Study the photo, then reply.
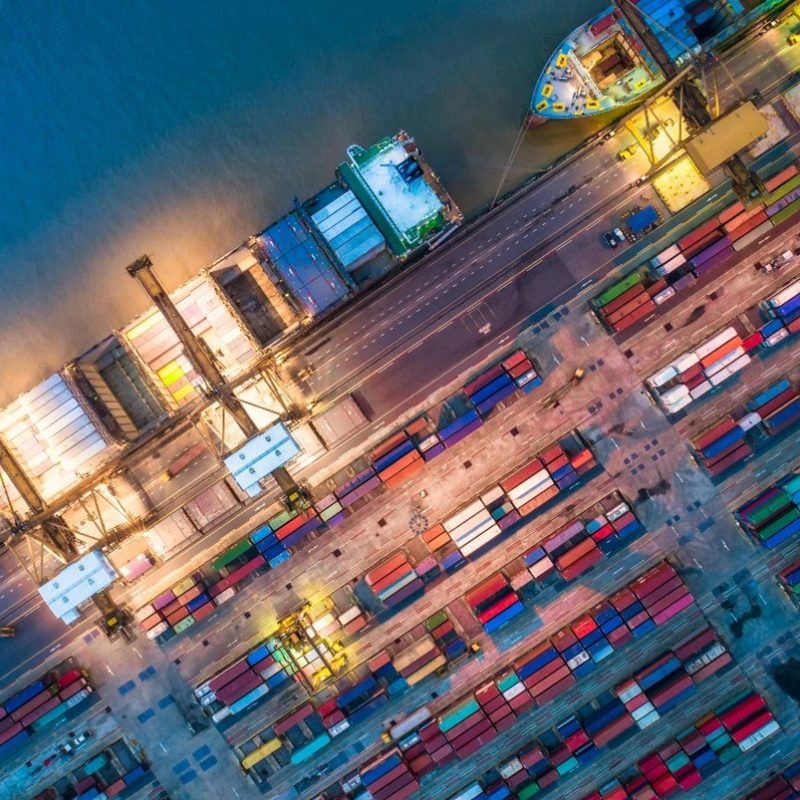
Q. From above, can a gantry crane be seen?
Yes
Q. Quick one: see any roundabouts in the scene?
No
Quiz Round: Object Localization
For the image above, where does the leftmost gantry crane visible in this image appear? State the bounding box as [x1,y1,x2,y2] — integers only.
[0,434,154,637]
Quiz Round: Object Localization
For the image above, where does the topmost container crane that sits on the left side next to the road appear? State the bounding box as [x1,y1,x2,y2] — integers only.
[119,249,312,515]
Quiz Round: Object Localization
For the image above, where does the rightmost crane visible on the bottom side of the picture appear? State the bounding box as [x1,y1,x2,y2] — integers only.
[280,599,353,689]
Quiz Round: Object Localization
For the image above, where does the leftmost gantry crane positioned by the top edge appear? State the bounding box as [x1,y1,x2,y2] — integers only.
[598,0,773,205]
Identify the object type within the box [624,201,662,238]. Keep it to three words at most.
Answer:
trailer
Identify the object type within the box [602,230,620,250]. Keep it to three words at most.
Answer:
car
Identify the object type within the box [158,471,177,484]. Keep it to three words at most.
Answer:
vehicle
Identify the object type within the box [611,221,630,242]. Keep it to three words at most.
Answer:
vehicle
